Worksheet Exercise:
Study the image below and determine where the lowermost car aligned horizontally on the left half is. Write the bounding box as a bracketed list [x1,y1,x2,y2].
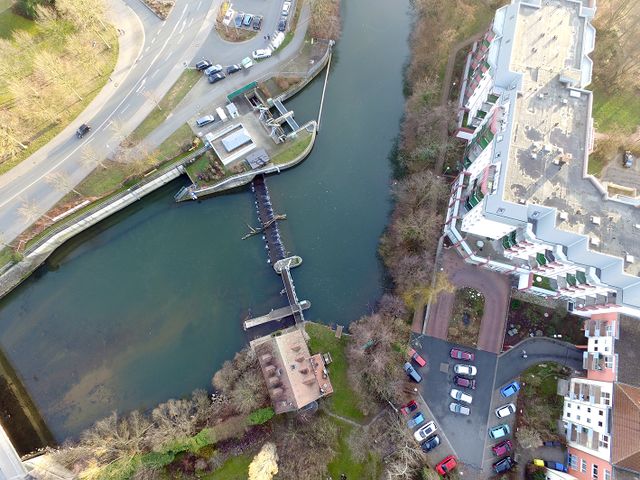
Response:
[194,114,216,127]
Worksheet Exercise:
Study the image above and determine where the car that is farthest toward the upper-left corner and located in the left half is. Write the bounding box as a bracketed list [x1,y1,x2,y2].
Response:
[73,122,93,138]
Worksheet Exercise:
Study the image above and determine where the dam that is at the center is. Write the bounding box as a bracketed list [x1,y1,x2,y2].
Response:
[254,178,286,265]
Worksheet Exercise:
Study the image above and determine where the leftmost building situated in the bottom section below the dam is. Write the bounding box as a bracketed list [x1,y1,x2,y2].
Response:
[254,329,334,416]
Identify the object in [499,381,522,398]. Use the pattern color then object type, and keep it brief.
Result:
blue car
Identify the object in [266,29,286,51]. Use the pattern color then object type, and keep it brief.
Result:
white vehicle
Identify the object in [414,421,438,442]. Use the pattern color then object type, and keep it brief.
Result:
white car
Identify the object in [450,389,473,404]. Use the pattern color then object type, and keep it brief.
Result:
white car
